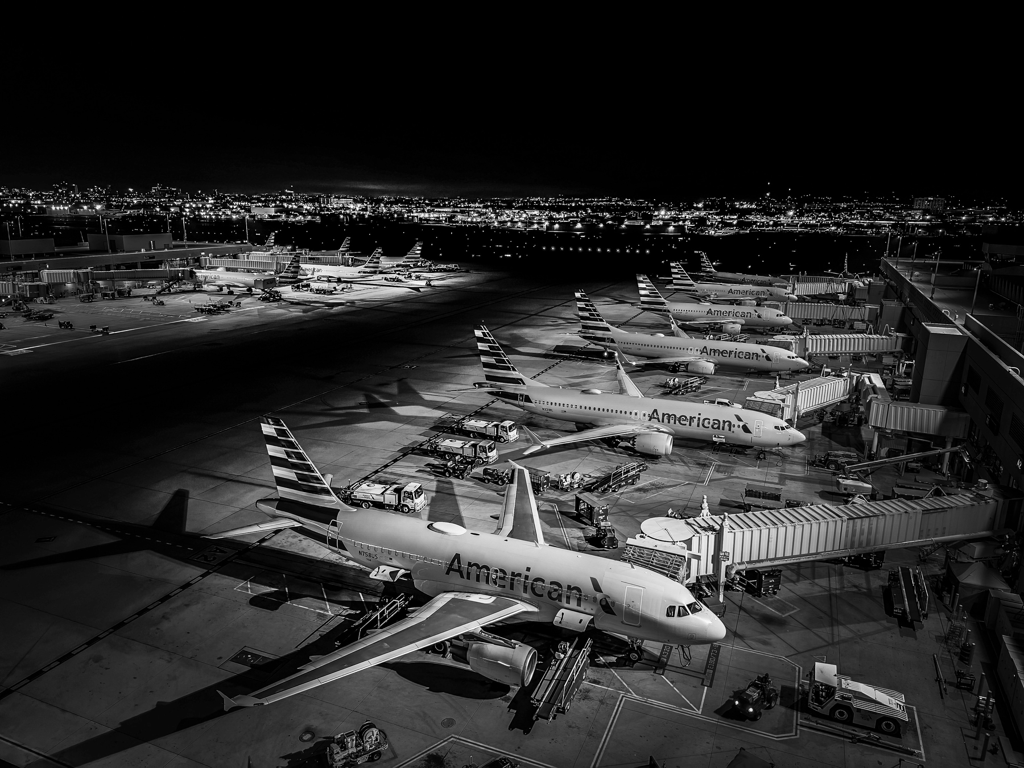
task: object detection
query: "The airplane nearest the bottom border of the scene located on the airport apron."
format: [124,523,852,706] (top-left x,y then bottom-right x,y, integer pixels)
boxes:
[200,415,725,712]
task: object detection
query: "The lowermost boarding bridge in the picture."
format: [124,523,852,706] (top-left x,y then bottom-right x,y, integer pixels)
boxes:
[622,484,1024,620]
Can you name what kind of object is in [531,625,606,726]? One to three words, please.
work vehicle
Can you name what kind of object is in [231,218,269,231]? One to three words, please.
building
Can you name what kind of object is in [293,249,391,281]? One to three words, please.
airplane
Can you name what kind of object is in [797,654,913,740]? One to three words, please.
work vehicle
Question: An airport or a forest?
airport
